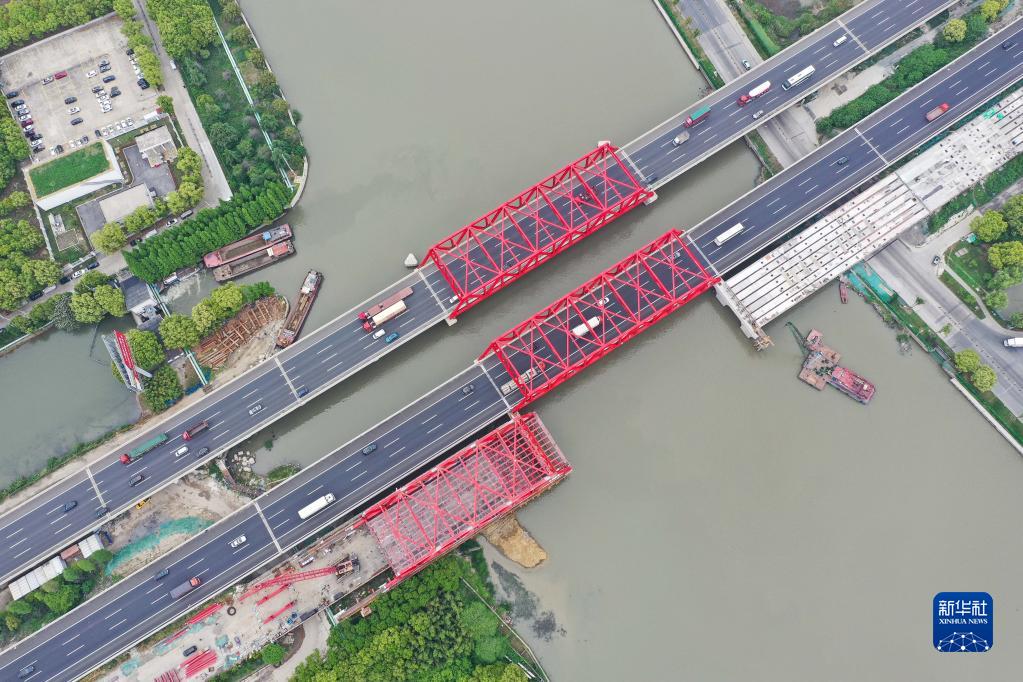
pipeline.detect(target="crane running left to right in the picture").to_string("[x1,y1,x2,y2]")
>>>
[239,553,362,601]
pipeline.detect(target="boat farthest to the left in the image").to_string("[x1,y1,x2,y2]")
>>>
[164,266,202,288]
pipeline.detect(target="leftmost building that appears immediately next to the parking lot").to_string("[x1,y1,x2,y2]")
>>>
[24,139,121,208]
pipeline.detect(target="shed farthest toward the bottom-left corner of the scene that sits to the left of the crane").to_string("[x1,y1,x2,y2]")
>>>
[10,556,67,600]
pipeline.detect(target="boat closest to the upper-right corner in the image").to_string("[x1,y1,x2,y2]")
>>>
[836,282,849,304]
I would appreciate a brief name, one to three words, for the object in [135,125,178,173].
house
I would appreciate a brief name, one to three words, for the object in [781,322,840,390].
ship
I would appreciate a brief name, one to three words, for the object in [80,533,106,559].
shed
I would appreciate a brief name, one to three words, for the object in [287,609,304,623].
vehicle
